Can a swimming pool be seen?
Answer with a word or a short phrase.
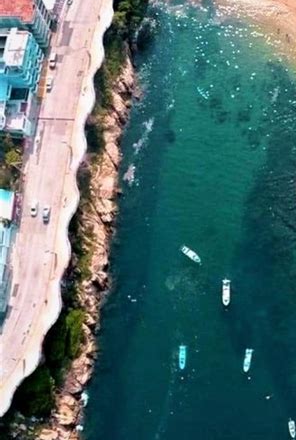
No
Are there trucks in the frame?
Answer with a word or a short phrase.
No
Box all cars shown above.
[49,52,57,67]
[43,208,50,220]
[47,79,53,90]
[32,202,38,216]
